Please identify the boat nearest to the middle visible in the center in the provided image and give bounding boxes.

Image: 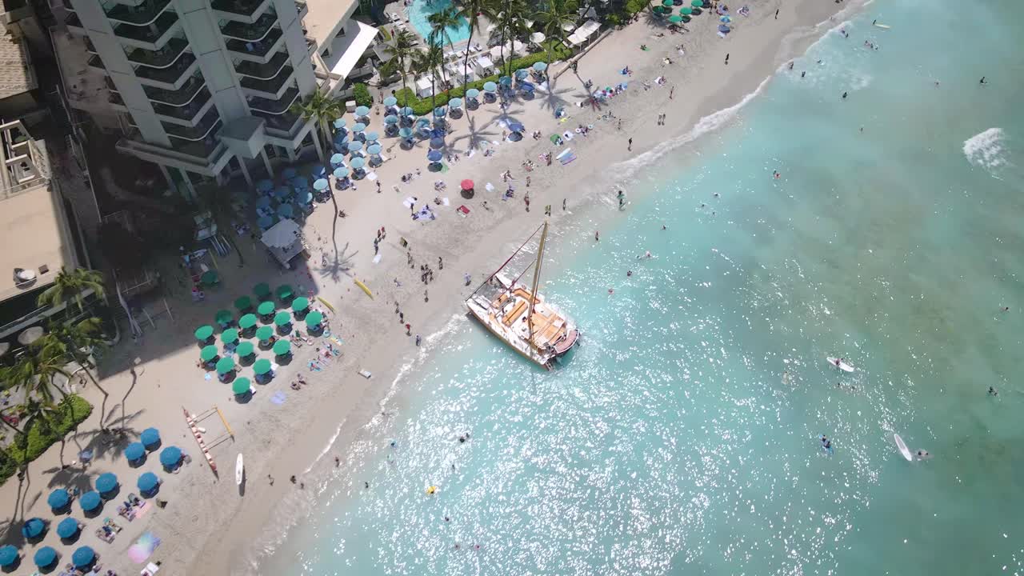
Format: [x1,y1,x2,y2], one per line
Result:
[464,224,581,370]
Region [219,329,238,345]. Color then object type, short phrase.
green umbrella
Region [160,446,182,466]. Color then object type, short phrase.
blue umbrella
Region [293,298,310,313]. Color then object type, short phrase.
green umbrella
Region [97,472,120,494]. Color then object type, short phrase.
blue umbrella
